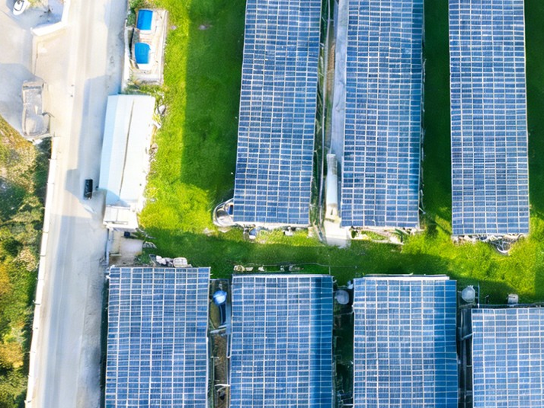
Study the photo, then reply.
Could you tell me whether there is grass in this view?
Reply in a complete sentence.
Yes, the picture does contain grass.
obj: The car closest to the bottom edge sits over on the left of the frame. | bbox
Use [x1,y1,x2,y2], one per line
[81,178,94,198]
